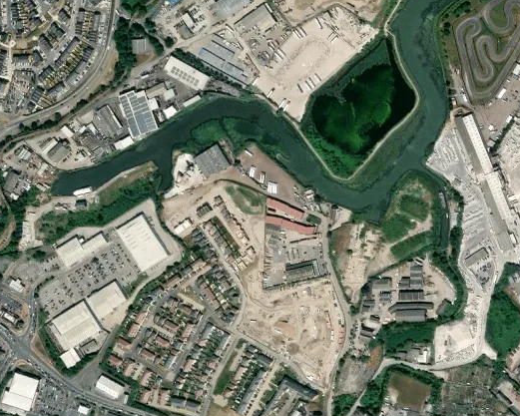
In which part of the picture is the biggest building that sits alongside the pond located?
right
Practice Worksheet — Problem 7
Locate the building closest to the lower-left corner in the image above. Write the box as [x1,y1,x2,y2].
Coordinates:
[1,372,40,412]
